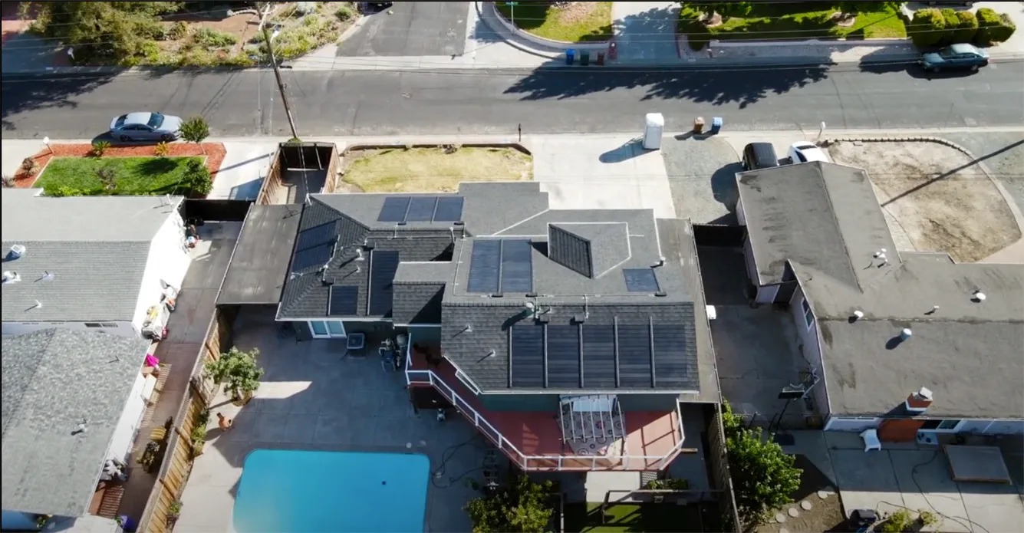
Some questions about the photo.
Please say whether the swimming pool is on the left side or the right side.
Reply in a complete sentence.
It is on the left.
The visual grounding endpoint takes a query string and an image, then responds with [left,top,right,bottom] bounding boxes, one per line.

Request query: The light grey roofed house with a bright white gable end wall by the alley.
[0,188,189,533]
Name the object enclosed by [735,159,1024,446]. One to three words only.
house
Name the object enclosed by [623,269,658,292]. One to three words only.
solar panel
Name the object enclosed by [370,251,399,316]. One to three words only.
solar panel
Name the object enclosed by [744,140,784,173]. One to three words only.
vehicle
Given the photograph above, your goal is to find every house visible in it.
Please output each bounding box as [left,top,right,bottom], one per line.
[735,159,1024,446]
[0,188,189,533]
[272,181,701,410]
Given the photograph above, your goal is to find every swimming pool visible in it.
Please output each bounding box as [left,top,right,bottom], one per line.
[220,449,433,533]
